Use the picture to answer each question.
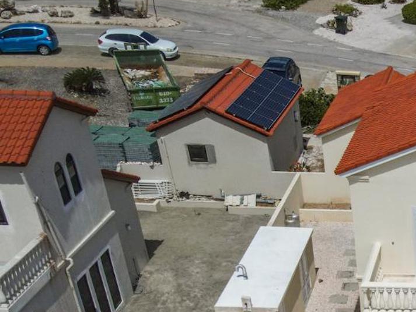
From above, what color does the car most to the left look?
blue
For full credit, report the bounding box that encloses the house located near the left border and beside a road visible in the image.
[0,86,149,312]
